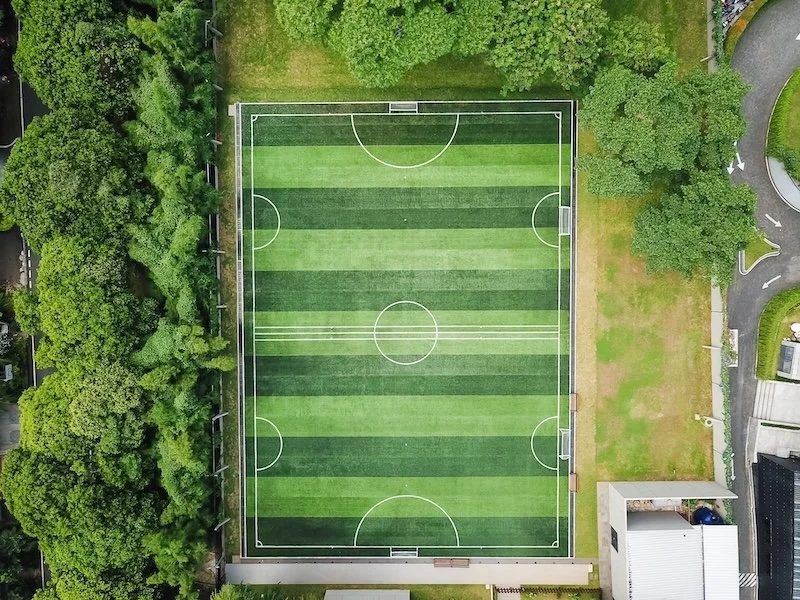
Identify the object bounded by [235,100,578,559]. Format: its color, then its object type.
green soccer field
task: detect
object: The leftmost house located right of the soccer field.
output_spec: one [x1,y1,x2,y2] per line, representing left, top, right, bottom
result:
[609,482,739,600]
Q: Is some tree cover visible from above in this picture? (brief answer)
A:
Yes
